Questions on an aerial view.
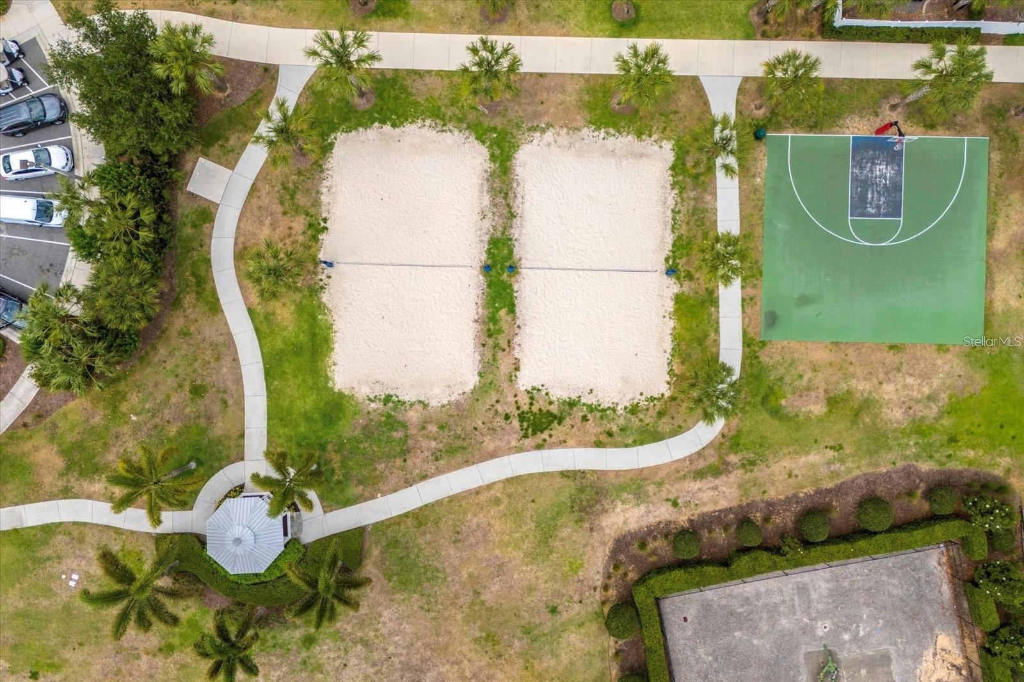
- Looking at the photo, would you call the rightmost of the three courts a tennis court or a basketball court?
basketball court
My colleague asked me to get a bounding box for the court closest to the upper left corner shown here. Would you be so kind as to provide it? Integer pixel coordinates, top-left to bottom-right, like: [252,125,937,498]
[316,121,493,405]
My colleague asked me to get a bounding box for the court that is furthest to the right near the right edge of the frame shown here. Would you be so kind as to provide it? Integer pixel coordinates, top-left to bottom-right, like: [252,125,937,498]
[761,135,989,344]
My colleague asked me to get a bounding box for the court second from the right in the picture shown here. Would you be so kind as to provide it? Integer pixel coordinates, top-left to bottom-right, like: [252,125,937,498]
[509,128,677,406]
